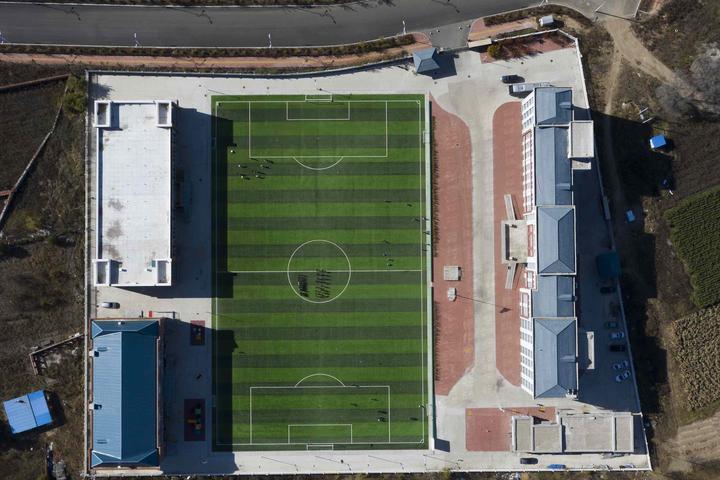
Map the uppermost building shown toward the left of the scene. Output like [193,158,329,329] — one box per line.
[94,100,190,286]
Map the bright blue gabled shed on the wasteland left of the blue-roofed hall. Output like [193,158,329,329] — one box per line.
[4,390,54,433]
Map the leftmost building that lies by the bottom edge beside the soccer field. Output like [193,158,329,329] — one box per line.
[89,314,172,470]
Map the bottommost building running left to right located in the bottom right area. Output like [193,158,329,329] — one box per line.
[508,408,634,453]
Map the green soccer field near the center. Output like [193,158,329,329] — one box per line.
[212,94,428,451]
